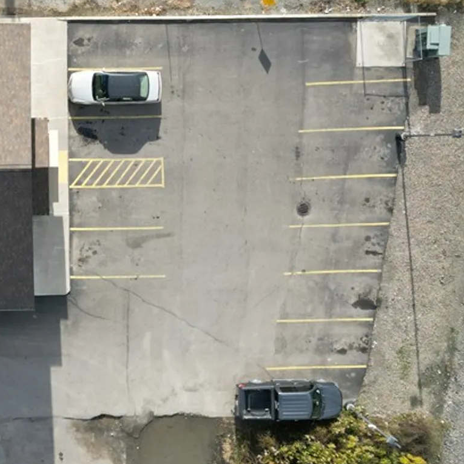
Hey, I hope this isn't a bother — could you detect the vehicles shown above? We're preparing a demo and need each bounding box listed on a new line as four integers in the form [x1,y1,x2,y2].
[67,67,163,106]
[233,379,341,426]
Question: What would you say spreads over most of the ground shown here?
paved ground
